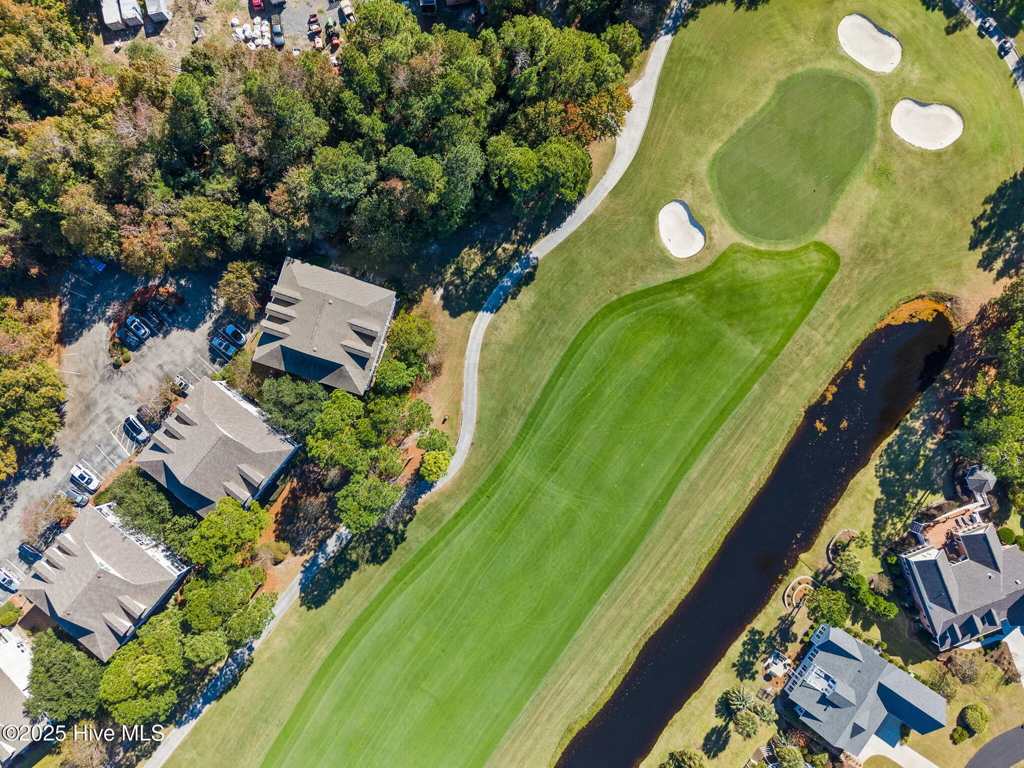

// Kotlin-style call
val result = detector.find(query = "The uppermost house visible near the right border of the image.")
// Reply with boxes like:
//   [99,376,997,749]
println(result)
[898,522,1024,651]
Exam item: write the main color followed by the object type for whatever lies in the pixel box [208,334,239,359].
blue car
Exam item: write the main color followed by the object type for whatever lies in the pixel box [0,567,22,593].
white car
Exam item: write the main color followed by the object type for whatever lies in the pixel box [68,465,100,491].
white car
